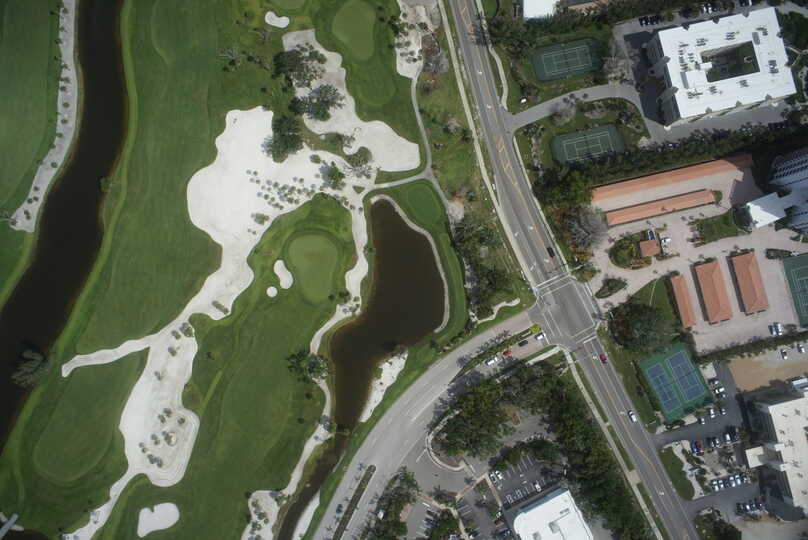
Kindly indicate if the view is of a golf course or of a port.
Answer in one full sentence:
This image shows a golf course.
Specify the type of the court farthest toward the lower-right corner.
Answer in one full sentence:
The court farthest toward the lower-right corner in the image is a tennis court.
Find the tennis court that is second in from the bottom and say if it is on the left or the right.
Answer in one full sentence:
It is on the right.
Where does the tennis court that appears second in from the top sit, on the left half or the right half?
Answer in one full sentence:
The tennis court that appears second in from the top sits on the right side.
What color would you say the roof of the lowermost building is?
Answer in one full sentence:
From above, the roof of the lowermost building looks white.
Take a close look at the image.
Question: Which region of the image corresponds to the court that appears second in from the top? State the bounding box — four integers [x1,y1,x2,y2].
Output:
[551,123,626,165]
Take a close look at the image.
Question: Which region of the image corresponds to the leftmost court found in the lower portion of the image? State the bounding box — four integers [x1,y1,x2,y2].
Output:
[637,342,716,425]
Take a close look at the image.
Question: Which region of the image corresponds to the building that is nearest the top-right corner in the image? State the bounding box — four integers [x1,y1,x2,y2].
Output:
[645,8,796,125]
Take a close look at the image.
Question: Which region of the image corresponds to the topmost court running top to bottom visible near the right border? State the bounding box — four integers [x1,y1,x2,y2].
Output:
[783,253,808,326]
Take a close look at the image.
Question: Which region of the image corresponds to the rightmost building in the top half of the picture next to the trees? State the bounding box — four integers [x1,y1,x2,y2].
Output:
[768,144,808,222]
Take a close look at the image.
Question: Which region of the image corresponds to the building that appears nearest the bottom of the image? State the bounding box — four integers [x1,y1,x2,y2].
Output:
[512,487,596,540]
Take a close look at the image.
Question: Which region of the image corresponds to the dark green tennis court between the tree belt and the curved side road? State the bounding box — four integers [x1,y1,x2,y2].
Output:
[533,37,603,80]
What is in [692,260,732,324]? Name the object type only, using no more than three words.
building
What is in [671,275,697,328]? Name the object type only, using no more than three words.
building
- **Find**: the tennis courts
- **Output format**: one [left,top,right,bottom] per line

[783,253,808,326]
[551,123,626,165]
[637,342,716,425]
[533,37,603,80]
